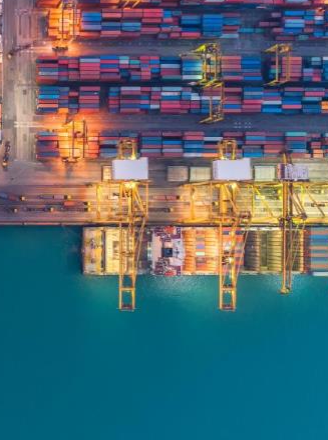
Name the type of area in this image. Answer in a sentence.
The area seen from above is a port.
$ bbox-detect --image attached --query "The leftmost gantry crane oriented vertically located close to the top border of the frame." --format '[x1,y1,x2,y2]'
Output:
[51,2,77,50]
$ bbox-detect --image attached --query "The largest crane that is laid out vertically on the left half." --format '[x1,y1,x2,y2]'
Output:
[81,135,148,316]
